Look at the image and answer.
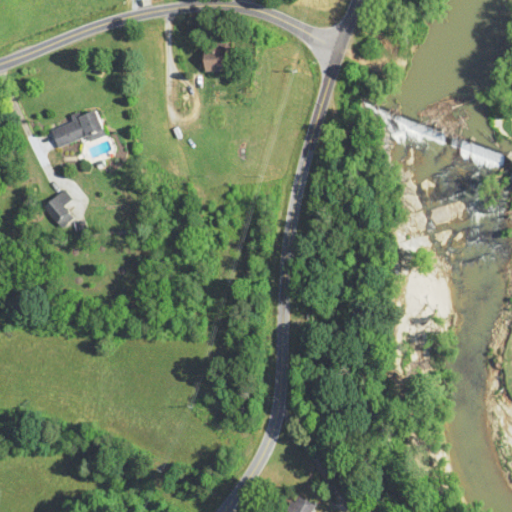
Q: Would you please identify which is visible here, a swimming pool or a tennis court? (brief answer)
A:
swimming pool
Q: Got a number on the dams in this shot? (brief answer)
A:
1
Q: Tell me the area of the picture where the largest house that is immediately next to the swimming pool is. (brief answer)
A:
top left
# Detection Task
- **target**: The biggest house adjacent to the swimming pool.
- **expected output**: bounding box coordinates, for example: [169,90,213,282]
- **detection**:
[48,110,106,150]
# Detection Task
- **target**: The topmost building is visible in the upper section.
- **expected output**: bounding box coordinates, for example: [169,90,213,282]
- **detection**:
[202,42,231,71]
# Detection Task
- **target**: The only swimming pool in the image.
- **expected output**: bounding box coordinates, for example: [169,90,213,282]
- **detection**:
[82,136,117,164]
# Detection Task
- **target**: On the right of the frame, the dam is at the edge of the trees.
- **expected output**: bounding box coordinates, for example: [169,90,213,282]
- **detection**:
[367,108,506,166]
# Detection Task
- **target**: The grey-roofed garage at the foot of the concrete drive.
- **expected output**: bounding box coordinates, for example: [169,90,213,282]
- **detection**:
[46,188,77,222]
